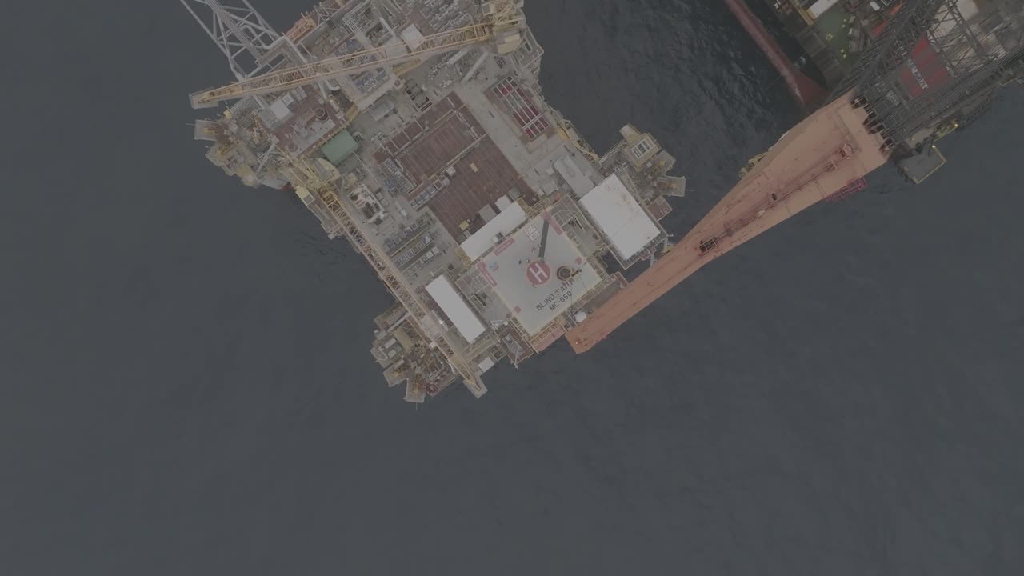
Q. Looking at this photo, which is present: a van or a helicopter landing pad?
helicopter landing pad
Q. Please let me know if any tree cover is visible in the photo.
No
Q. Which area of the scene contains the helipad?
center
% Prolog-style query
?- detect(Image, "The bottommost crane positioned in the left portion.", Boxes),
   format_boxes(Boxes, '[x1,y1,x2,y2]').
[274,151,477,389]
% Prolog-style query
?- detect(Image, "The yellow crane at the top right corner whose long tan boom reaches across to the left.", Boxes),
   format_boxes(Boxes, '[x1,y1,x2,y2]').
[195,0,525,104]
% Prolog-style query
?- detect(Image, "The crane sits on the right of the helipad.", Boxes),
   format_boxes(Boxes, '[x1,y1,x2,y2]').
[565,0,1024,353]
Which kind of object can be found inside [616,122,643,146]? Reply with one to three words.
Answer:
house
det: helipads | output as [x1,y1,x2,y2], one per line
[471,204,608,341]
